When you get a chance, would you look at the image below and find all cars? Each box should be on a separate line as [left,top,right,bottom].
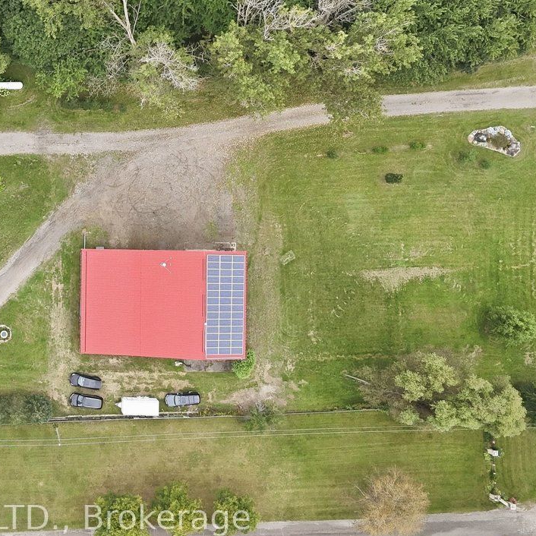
[70,394,104,410]
[69,374,103,391]
[166,393,202,408]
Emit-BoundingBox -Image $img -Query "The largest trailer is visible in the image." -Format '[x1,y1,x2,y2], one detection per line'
[113,395,159,417]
